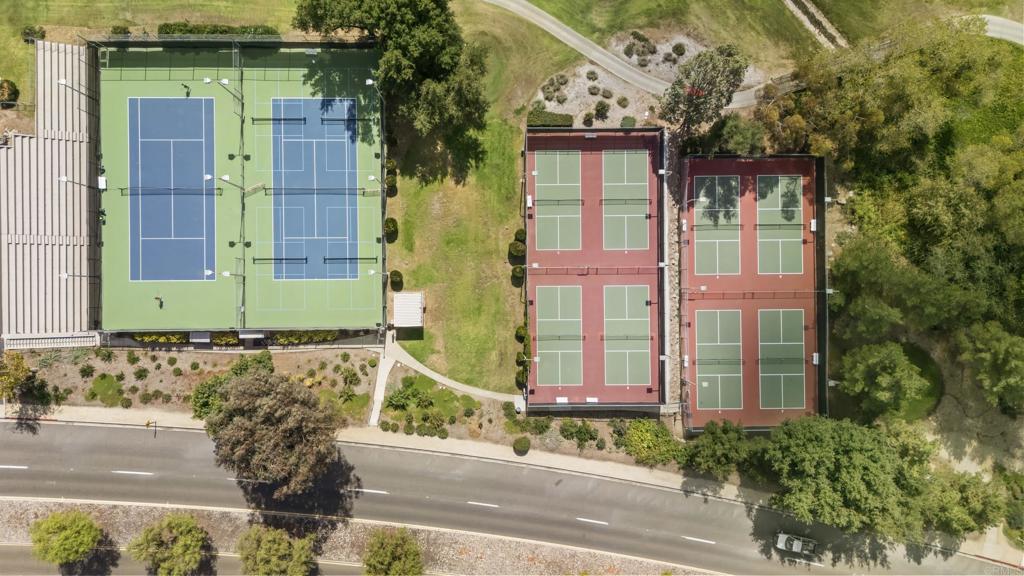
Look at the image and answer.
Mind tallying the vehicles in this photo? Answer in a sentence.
In total, there is 1 vehicle in the scene.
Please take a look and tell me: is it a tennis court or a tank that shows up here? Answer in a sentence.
Visible in the photo is a tennis court.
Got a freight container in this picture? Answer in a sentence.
No, this view has no freight container in it.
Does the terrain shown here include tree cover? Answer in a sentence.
Yes, tree cover can be seen from above here.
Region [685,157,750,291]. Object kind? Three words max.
sports court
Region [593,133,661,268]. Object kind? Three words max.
sports court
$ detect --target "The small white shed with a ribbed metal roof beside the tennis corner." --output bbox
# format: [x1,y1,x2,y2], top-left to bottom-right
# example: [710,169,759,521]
[394,292,427,327]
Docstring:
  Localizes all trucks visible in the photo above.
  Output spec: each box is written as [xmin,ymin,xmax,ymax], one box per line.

[774,532,817,554]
